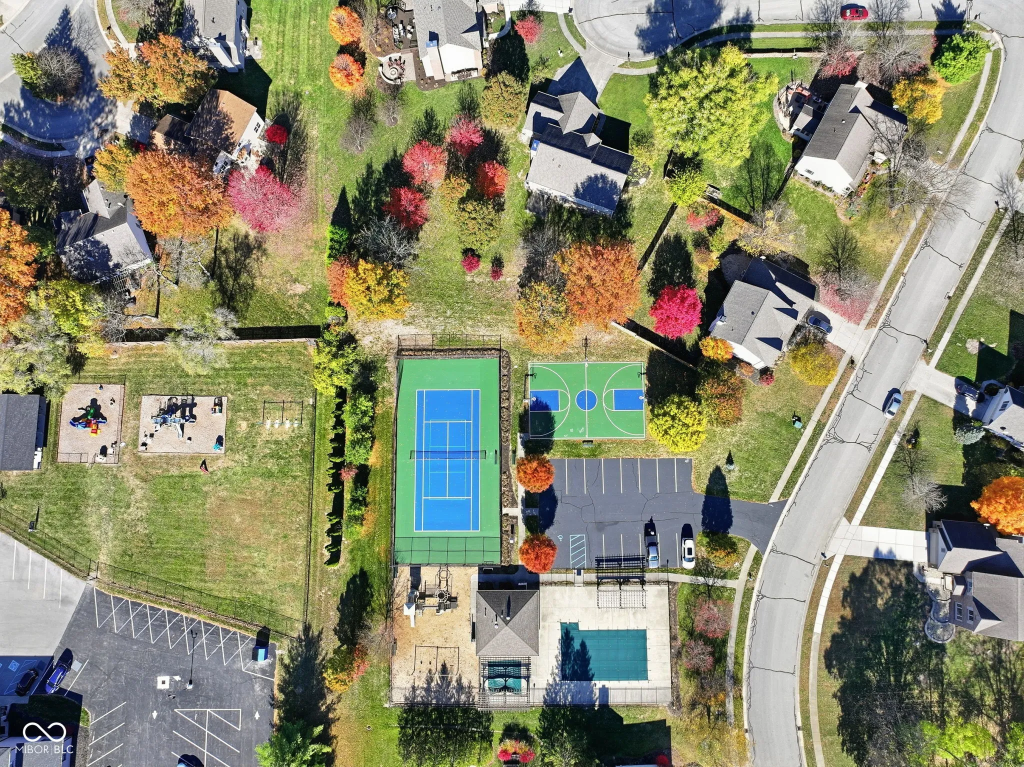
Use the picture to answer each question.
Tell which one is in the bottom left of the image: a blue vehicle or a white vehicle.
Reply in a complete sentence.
It is a blue vehicle that can be seen in the bottom left of the image.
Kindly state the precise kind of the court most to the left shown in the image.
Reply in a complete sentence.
What you see as the court most to the left is a tennis court.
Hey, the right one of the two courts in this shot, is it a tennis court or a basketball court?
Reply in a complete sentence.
In the photo, the right one of the two courts shows up as a basketball court.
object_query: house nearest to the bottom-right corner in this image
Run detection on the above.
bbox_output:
[928,519,1024,639]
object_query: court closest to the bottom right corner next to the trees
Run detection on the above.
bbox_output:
[529,362,646,439]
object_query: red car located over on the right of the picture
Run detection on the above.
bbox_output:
[840,8,867,21]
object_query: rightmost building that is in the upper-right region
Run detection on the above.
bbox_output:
[790,77,915,200]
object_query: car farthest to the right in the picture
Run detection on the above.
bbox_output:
[953,383,985,405]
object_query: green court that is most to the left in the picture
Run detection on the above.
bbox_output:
[394,357,501,566]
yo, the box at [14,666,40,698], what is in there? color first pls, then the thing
black car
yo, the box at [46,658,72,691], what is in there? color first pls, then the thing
blue car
